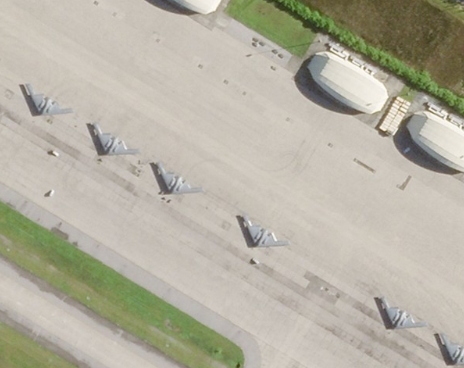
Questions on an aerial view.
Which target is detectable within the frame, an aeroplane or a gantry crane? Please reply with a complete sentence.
I can see an aeroplane in this picture.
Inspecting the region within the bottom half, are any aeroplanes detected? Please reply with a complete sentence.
Yes, an aeroplane is visible within the bottom half.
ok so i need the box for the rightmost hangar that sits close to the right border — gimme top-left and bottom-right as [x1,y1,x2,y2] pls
[405,112,464,174]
